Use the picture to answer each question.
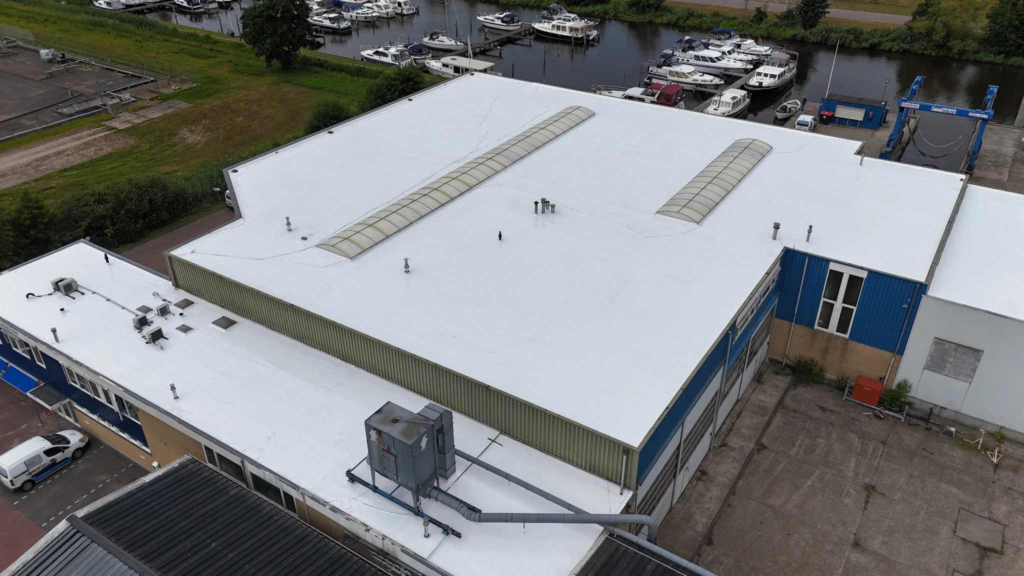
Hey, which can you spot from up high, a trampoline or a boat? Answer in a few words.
boat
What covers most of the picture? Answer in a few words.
buildings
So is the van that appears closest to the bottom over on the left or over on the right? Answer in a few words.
left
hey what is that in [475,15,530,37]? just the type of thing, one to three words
boat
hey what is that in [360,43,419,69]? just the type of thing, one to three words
boat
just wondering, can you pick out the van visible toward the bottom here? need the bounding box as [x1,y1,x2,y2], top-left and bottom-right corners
[0,429,88,495]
